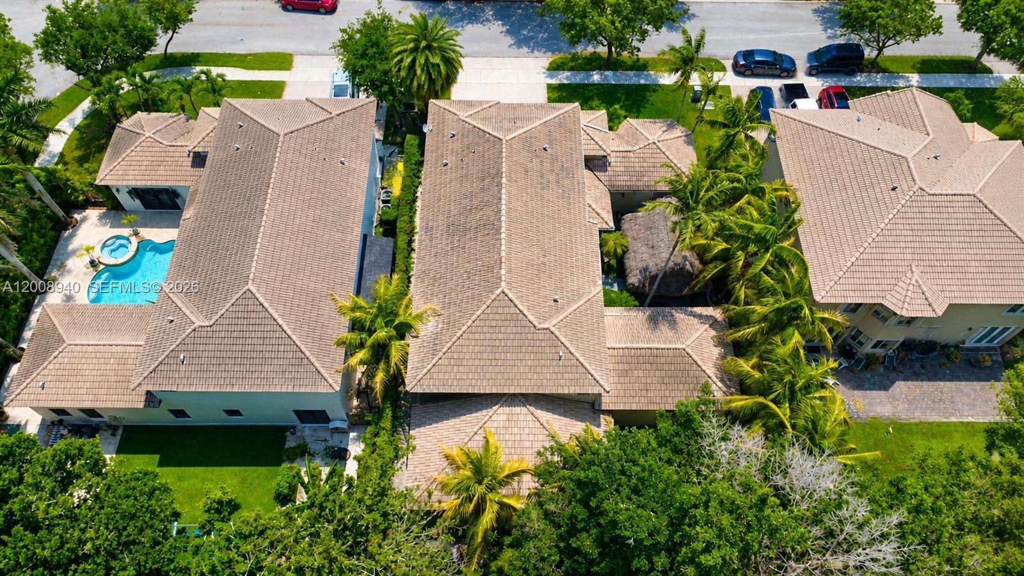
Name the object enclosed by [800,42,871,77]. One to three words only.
car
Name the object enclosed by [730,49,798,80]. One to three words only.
car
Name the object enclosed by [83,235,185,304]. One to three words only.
swimming pool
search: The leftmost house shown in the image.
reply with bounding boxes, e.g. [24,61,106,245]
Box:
[2,94,380,423]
